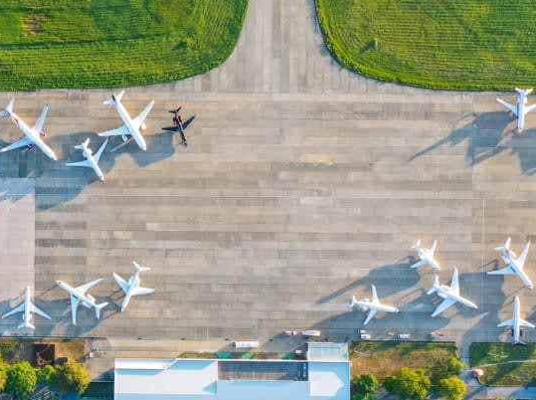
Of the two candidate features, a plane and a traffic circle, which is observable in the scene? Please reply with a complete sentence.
It is a plane that can be seen here.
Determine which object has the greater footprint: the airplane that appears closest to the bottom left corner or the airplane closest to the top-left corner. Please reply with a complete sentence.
The larger object is the airplane closest to the top-left corner, with the airplane that appears closest to the bottom left corner being the smaller of the pair.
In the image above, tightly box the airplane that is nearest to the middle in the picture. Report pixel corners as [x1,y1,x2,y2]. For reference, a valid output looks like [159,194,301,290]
[163,108,197,145]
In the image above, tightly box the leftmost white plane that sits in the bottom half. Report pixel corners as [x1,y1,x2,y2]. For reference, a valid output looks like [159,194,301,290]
[3,287,52,327]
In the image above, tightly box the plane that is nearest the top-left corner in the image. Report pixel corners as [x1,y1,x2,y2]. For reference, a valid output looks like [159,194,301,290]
[1,101,58,160]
